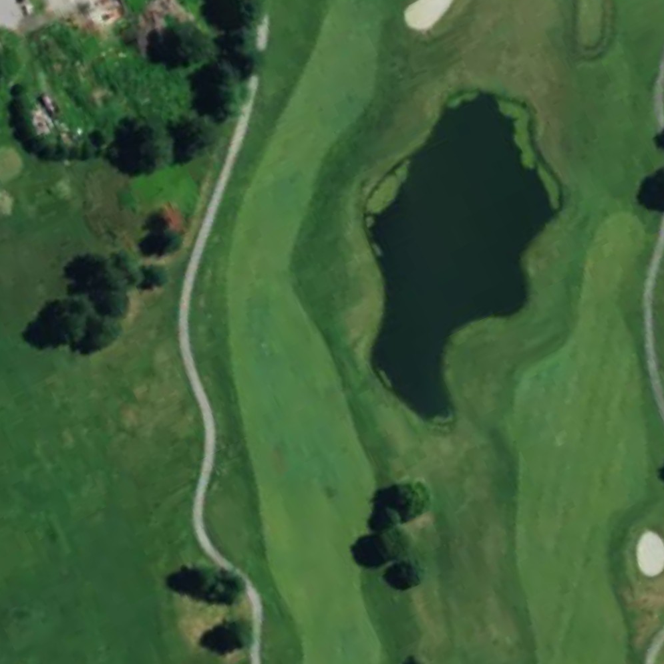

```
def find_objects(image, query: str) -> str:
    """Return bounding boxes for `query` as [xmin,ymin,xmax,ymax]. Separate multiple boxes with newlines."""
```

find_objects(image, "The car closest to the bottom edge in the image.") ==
[42,95,54,110]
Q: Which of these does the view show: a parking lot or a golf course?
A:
golf course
